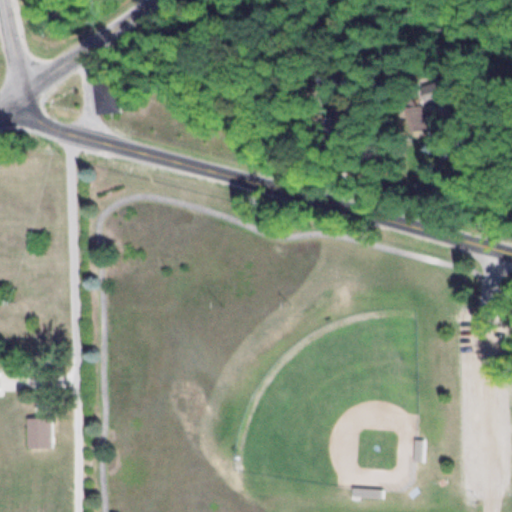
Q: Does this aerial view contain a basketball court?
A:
No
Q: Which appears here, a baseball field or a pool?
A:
baseball field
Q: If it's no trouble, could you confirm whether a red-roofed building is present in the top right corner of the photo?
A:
No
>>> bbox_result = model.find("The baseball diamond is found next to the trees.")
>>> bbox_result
[240,310,417,492]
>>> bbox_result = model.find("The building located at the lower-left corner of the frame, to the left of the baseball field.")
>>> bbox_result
[28,420,54,450]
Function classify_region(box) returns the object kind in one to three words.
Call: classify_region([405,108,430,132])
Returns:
house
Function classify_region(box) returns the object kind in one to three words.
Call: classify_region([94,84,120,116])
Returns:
building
